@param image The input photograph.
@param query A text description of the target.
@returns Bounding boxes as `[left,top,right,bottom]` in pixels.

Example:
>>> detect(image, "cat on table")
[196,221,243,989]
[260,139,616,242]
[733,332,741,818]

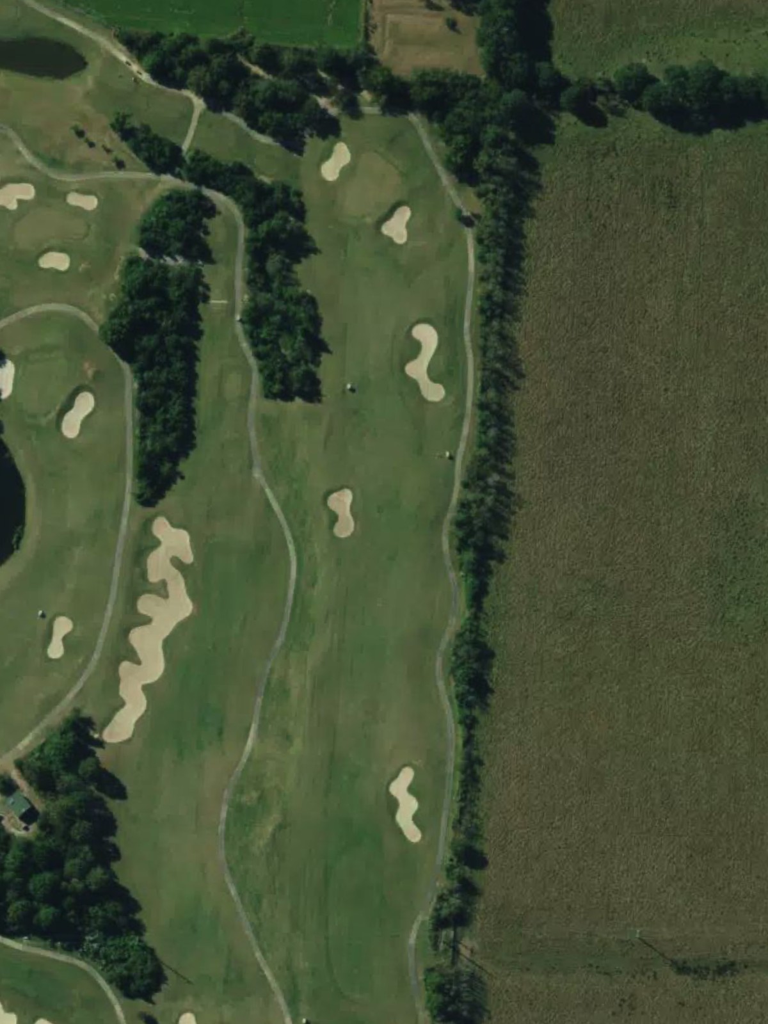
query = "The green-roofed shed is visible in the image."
[6,792,30,817]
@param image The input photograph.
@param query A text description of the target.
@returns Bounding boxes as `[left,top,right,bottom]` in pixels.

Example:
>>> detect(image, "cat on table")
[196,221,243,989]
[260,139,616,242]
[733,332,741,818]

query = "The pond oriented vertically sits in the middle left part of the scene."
[0,436,25,565]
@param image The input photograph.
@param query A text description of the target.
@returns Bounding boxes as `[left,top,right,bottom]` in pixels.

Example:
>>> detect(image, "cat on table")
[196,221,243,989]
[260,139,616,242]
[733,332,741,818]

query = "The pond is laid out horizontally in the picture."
[0,38,87,78]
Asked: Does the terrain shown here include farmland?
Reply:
Yes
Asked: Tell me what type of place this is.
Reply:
golf course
